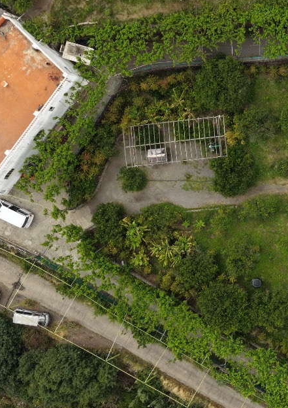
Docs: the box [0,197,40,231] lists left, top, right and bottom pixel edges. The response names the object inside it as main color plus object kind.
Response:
white car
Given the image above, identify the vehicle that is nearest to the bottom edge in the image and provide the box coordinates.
[10,307,54,329]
